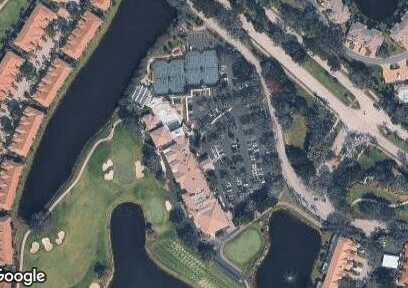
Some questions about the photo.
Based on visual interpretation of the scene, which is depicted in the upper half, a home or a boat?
home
